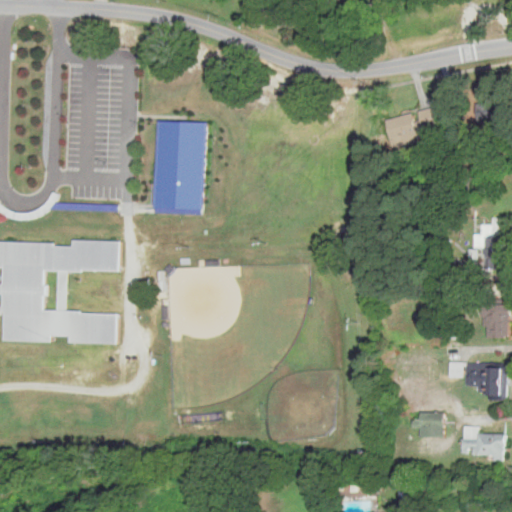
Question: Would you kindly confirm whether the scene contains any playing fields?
Yes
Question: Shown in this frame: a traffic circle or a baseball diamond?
baseball diamond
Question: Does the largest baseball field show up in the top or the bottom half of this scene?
bottom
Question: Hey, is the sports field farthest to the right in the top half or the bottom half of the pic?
bottom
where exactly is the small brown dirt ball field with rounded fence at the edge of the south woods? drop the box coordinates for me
[267,372,338,441]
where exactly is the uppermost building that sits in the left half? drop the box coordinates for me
[154,121,210,214]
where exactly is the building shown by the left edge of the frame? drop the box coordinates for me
[0,240,122,345]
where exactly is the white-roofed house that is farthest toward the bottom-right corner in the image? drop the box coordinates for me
[461,426,508,462]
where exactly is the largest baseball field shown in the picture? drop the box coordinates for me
[170,264,312,409]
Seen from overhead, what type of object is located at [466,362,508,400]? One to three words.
house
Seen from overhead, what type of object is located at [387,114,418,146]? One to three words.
house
